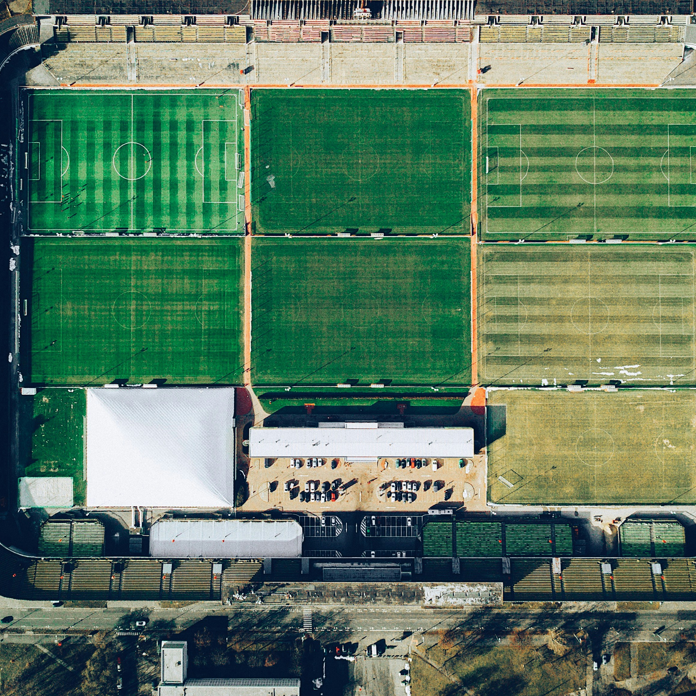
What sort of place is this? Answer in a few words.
sports ground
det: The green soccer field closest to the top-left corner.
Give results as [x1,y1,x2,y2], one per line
[21,88,245,235]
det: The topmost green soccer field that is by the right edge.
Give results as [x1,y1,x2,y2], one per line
[477,89,696,242]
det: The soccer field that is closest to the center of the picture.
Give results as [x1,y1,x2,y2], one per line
[252,236,471,387]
